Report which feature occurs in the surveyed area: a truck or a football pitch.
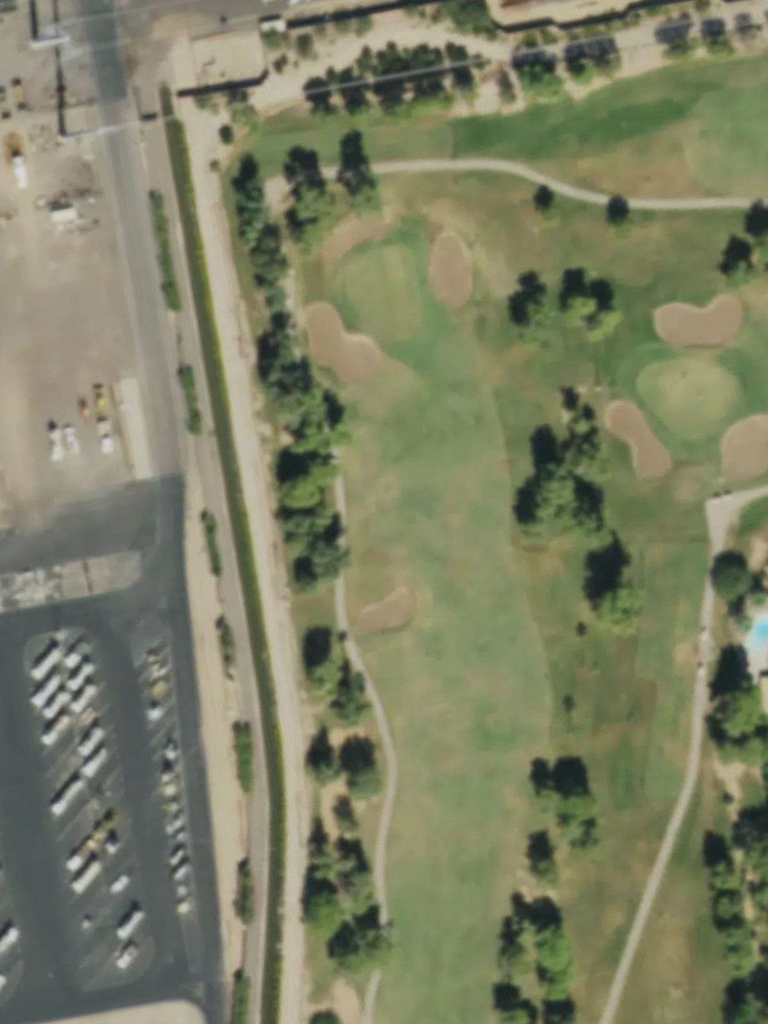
truck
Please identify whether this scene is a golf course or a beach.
golf course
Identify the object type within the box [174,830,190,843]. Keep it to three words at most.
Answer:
vehicle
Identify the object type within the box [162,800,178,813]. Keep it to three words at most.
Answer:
vehicle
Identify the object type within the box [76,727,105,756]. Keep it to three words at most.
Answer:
truck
